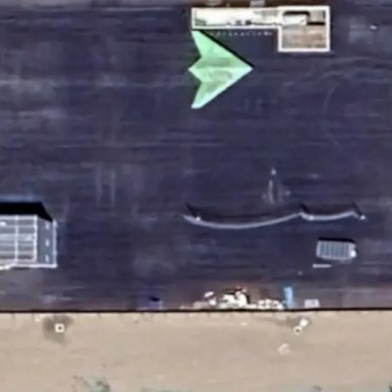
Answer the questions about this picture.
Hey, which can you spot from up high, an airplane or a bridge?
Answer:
airplane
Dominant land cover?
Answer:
paved ground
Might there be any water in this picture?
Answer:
No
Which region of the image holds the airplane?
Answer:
top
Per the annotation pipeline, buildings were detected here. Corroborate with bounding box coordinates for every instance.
[0,215,55,270]
[191,7,334,53]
